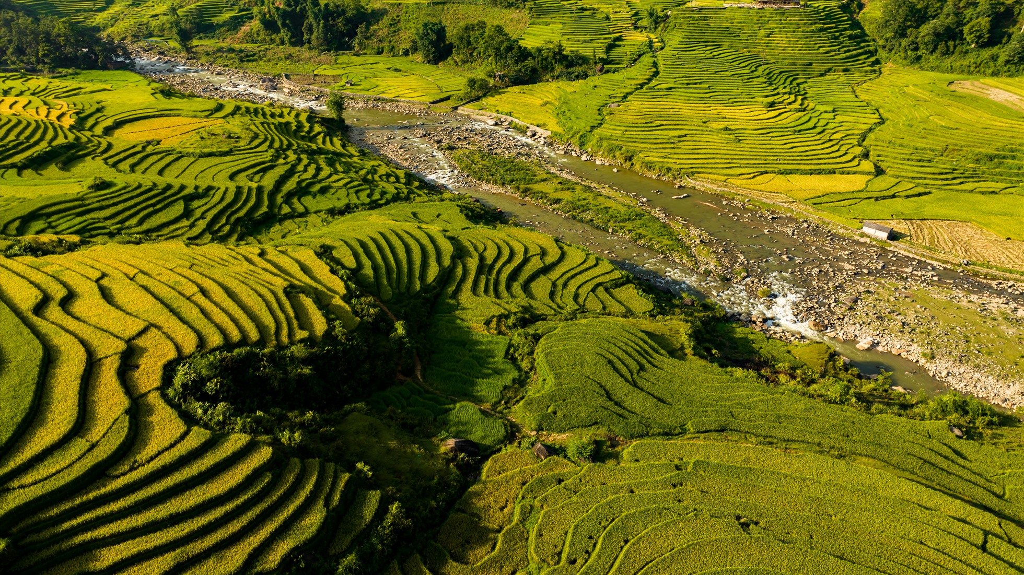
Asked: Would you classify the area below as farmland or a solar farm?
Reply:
farmland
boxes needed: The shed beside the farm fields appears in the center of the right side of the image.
[862,217,897,242]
